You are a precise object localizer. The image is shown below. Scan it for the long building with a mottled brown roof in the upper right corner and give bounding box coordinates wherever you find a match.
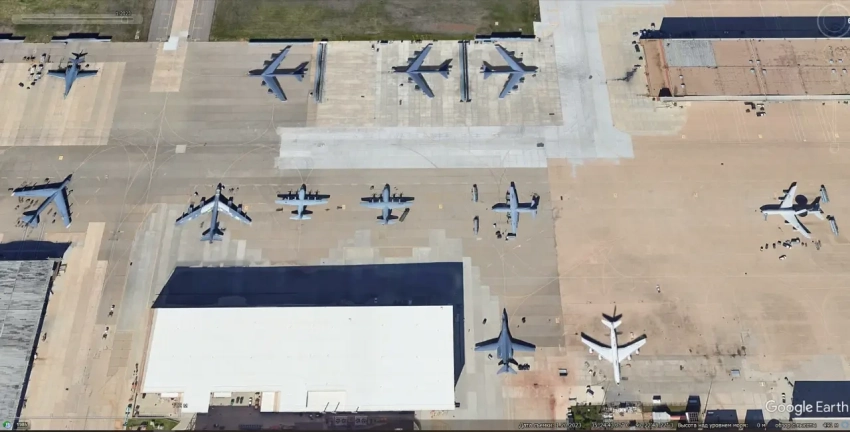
[657,38,850,101]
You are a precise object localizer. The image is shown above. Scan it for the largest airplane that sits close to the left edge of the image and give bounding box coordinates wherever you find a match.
[12,175,76,230]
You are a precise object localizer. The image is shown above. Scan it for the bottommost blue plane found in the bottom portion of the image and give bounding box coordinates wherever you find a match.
[475,309,537,372]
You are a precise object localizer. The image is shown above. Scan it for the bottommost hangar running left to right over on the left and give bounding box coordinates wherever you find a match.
[144,306,455,412]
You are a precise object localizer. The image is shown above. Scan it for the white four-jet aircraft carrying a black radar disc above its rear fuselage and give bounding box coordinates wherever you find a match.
[760,189,828,243]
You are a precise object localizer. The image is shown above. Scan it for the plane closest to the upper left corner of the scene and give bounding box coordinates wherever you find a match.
[48,51,100,100]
